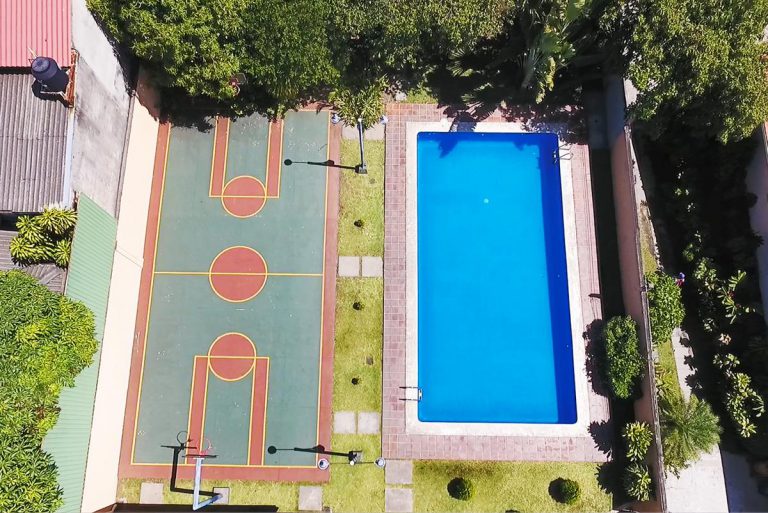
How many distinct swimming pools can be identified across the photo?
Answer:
one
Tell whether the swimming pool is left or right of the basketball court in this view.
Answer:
to its right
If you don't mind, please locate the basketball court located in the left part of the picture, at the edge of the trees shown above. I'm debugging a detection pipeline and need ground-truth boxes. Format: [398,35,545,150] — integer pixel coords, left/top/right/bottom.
[119,101,340,481]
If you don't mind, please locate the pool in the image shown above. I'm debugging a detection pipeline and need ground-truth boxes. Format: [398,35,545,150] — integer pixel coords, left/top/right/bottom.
[406,122,591,436]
